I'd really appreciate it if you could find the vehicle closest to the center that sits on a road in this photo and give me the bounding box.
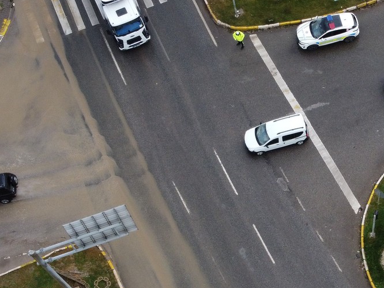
[244,116,310,158]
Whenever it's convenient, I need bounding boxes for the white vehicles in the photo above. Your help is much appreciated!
[95,0,152,53]
[244,116,310,158]
[295,10,360,51]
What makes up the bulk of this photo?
paved ground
